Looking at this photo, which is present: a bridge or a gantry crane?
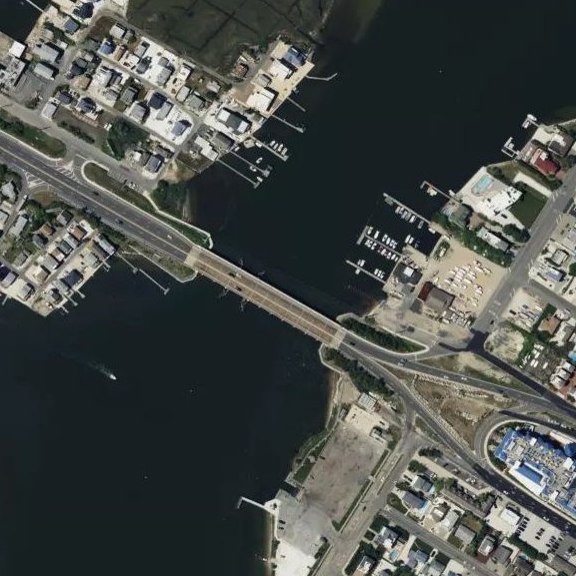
bridge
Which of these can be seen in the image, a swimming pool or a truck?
swimming pool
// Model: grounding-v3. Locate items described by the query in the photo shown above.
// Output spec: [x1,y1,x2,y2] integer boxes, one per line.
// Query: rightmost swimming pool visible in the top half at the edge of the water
[475,171,493,192]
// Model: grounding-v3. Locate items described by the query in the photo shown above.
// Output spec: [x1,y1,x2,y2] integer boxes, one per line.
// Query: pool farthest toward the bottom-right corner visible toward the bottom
[517,465,542,486]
